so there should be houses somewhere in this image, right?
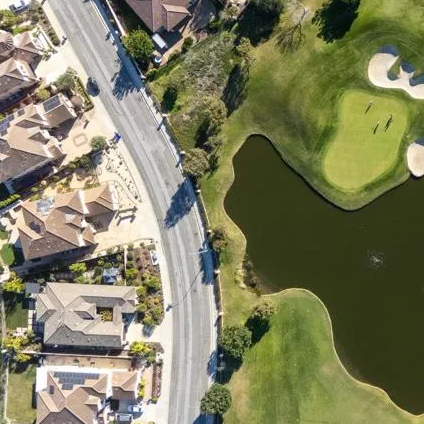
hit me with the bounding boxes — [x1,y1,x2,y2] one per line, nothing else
[122,0,192,30]
[24,282,137,350]
[0,24,46,113]
[10,184,119,267]
[35,369,140,424]
[0,94,78,188]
